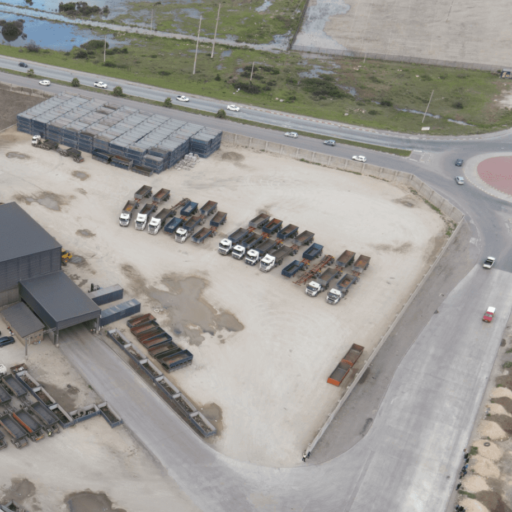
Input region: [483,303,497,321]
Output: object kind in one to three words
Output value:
vehicle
